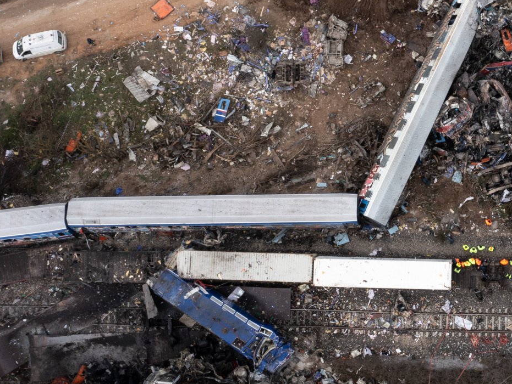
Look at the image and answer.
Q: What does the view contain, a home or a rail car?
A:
rail car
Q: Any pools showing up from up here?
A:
No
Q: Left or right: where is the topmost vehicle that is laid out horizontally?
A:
left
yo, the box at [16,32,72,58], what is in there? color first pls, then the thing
white vehicle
